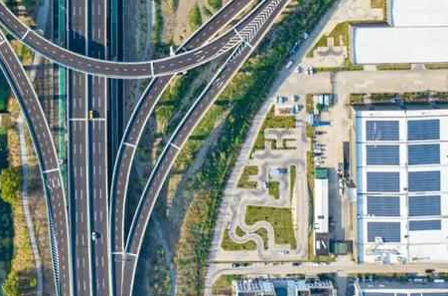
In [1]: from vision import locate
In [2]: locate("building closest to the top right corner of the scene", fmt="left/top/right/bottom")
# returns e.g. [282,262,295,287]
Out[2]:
[350,0,448,64]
